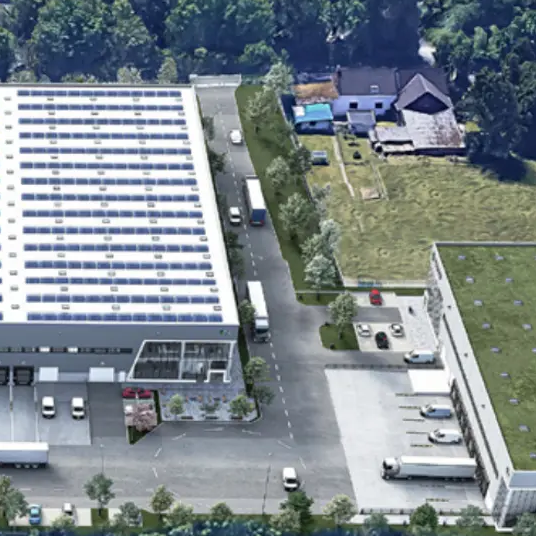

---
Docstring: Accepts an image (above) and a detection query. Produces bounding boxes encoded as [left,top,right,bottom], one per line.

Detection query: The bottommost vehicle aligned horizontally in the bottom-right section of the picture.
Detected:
[382,454,484,481]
